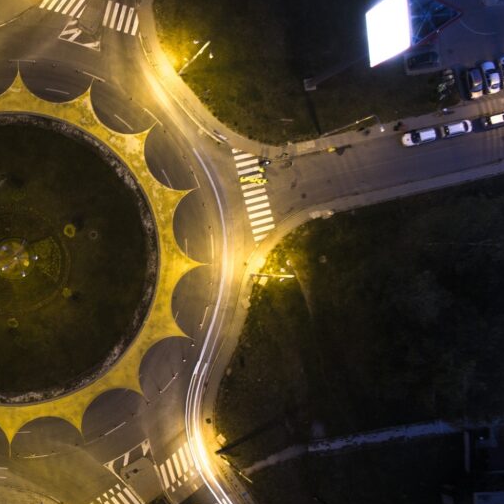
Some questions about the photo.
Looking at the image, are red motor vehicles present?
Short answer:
No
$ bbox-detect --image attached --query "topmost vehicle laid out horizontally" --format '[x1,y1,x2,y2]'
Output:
[407,51,439,67]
